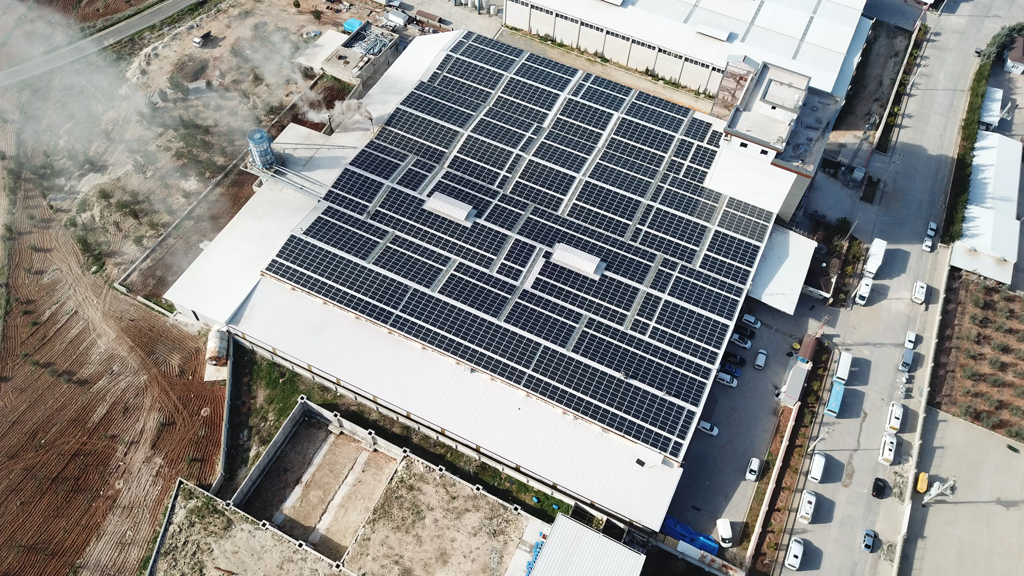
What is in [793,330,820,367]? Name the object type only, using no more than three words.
shed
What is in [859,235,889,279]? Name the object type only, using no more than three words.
truck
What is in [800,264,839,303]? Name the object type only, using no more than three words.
building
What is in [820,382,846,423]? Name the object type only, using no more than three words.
bus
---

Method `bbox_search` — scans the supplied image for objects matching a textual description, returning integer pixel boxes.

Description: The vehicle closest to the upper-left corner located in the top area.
[191,28,215,48]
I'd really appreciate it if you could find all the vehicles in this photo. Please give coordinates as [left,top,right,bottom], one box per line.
[828,349,853,385]
[859,235,889,279]
[191,28,215,48]
[714,370,739,389]
[753,349,768,371]
[972,47,982,59]
[902,328,919,348]
[897,346,916,374]
[910,280,928,306]
[729,334,752,351]
[820,382,846,423]
[722,351,747,369]
[869,475,887,503]
[807,452,826,485]
[744,456,762,484]
[920,235,933,255]
[380,17,399,32]
[739,311,763,331]
[718,362,742,379]
[695,420,720,438]
[715,516,734,549]
[796,488,817,528]
[884,401,904,436]
[859,526,876,556]
[855,275,876,307]
[733,324,757,342]
[782,534,805,576]
[876,432,897,468]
